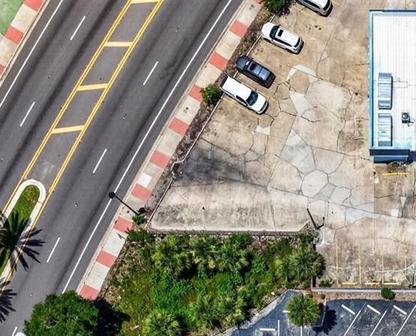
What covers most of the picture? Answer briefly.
paved ground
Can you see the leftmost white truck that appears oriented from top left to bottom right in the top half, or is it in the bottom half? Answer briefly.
top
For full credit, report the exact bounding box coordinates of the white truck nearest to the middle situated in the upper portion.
[217,72,270,116]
